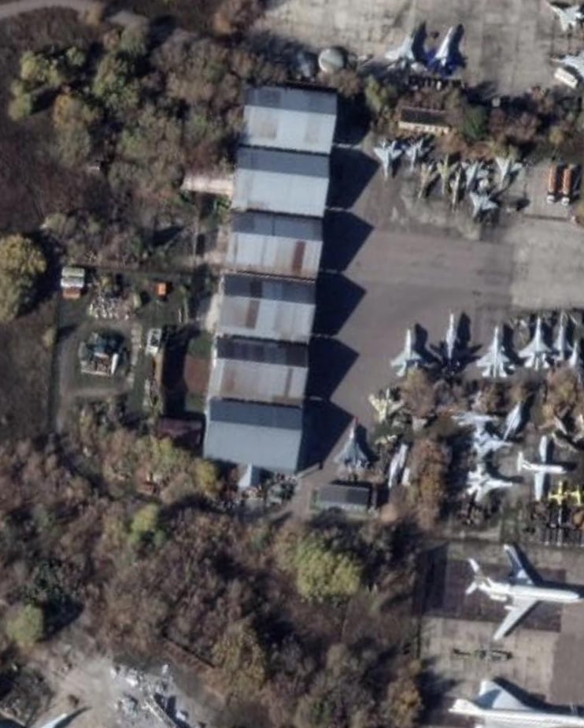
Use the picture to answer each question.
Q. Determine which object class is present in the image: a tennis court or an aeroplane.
aeroplane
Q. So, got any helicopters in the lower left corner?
No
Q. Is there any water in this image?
No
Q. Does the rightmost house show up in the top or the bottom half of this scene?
top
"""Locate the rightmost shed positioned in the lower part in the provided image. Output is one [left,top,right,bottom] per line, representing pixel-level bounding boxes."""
[317,484,371,512]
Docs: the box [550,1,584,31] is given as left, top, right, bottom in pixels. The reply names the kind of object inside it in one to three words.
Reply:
airplane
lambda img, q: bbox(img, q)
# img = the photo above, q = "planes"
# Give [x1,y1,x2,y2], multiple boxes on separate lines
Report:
[477,327,513,381]
[387,29,421,81]
[519,320,555,372]
[465,155,490,190]
[389,328,425,380]
[415,160,435,198]
[427,25,462,81]
[468,431,511,461]
[519,439,566,501]
[502,403,519,439]
[546,415,570,438]
[463,467,510,504]
[435,155,458,194]
[449,680,584,728]
[451,165,467,211]
[402,138,428,171]
[336,422,371,476]
[549,485,569,509]
[556,55,584,78]
[550,1,584,31]
[371,139,399,182]
[569,485,584,507]
[460,544,582,638]
[552,314,573,363]
[494,155,519,189]
[432,312,469,375]
[473,187,497,218]
[371,387,401,419]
